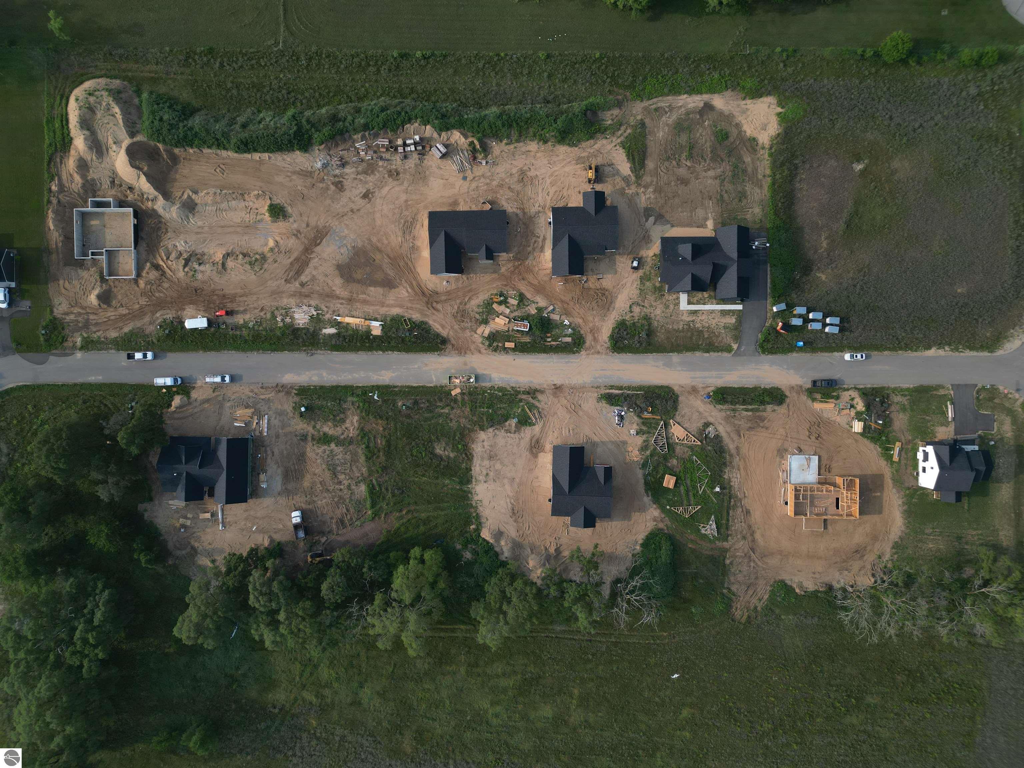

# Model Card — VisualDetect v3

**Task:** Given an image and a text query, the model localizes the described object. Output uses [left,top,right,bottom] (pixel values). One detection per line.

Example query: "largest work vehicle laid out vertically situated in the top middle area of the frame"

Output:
[586,162,598,187]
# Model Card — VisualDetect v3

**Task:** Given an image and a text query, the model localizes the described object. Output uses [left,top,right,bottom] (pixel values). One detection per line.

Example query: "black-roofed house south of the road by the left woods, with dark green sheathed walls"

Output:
[155,437,252,507]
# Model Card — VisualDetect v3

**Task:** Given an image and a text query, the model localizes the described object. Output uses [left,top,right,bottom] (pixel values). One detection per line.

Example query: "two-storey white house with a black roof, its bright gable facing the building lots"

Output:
[913,442,987,500]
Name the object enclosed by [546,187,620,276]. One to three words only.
house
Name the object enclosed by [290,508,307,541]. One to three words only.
vehicle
